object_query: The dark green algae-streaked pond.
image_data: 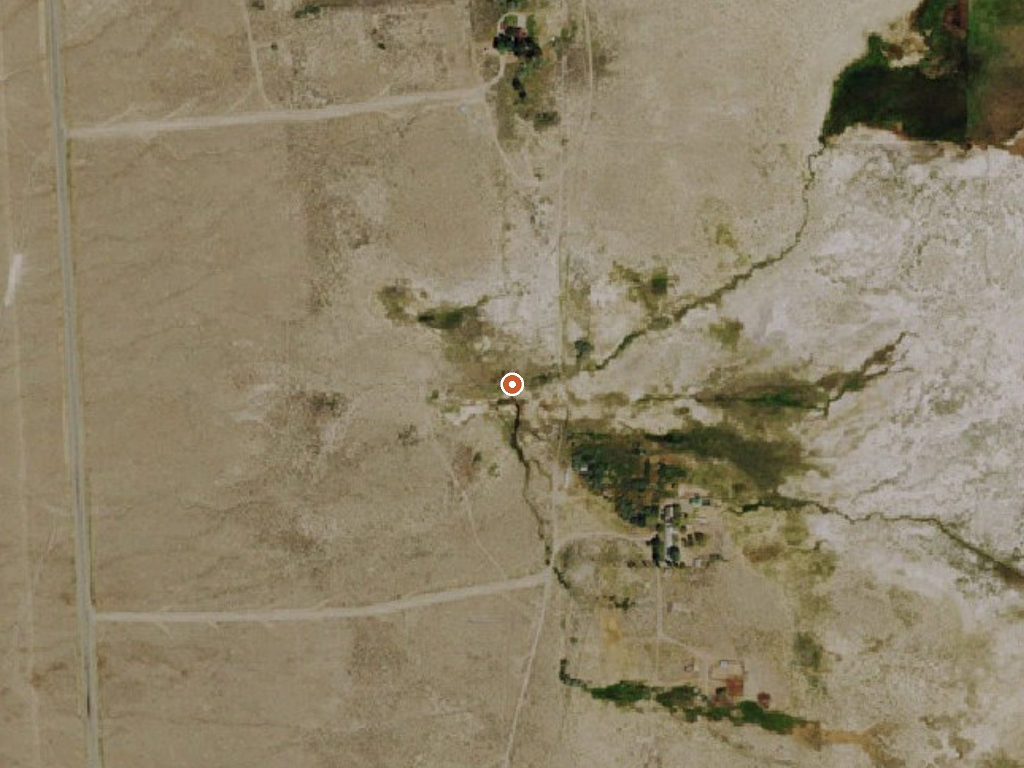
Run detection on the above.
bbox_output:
[823,0,968,141]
